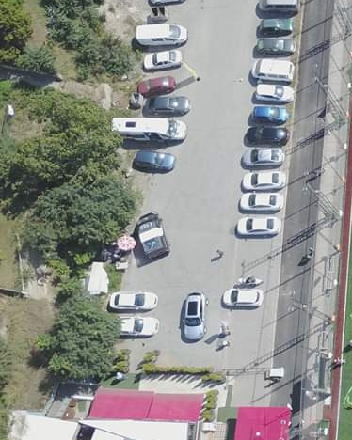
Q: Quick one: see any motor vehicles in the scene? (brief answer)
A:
Yes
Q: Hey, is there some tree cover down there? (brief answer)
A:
Yes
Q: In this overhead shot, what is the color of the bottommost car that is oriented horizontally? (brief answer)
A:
white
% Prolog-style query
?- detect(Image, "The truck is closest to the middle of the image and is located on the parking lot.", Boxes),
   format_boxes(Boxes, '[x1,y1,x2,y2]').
[137,213,169,259]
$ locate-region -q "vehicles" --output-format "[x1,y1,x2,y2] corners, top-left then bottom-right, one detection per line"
[137,213,169,259]
[111,318,160,339]
[241,147,284,167]
[254,85,295,103]
[143,51,182,71]
[238,191,284,213]
[143,95,190,117]
[131,24,188,48]
[258,0,299,13]
[251,60,295,82]
[240,170,286,191]
[250,106,289,125]
[255,36,296,56]
[257,18,292,37]
[137,75,175,97]
[149,0,187,7]
[179,294,205,341]
[221,287,264,308]
[105,116,190,143]
[108,291,158,312]
[131,152,175,172]
[235,215,281,237]
[244,124,289,145]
